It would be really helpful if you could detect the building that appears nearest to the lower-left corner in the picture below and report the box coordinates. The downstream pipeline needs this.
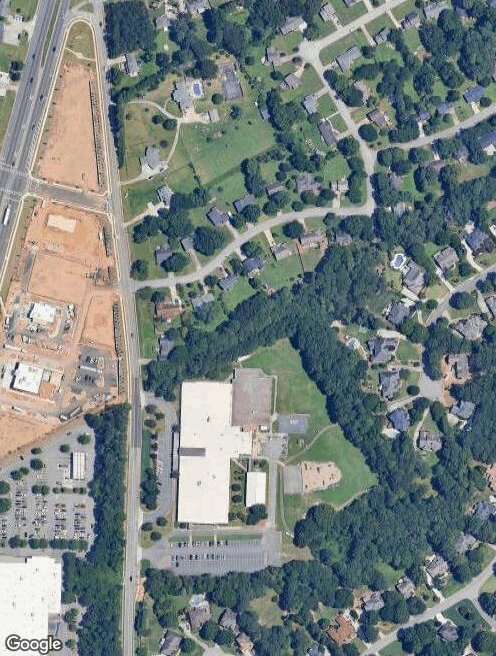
[0,557,62,656]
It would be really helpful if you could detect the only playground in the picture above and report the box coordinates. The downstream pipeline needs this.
[303,461,341,493]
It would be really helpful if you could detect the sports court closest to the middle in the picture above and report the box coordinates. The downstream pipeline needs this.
[273,415,307,433]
